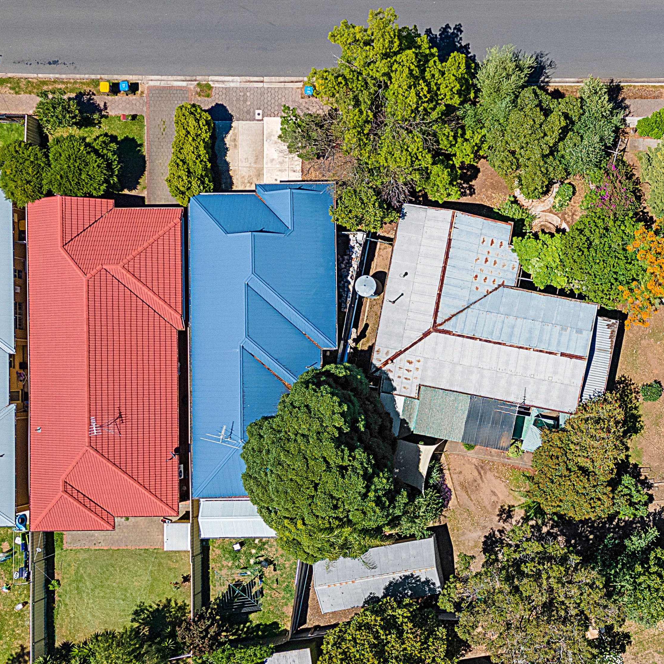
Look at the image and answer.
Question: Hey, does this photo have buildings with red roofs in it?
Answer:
Yes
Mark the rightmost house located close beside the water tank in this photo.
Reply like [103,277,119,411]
[369,201,601,415]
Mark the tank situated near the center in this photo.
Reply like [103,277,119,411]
[355,275,381,297]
